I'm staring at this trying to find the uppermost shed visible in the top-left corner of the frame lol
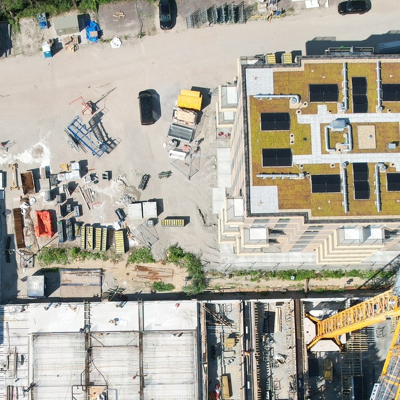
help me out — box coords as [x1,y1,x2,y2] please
[55,15,81,36]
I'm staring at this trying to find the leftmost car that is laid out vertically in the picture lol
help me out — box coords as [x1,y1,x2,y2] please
[138,92,153,123]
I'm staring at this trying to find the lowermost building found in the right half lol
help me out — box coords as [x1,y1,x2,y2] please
[216,49,400,264]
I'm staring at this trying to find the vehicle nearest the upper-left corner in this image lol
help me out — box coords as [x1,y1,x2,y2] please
[157,0,172,29]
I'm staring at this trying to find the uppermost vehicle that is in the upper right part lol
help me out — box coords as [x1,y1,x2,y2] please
[338,0,367,15]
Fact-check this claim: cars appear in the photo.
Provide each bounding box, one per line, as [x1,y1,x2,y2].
[138,92,153,123]
[338,0,367,15]
[157,0,172,29]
